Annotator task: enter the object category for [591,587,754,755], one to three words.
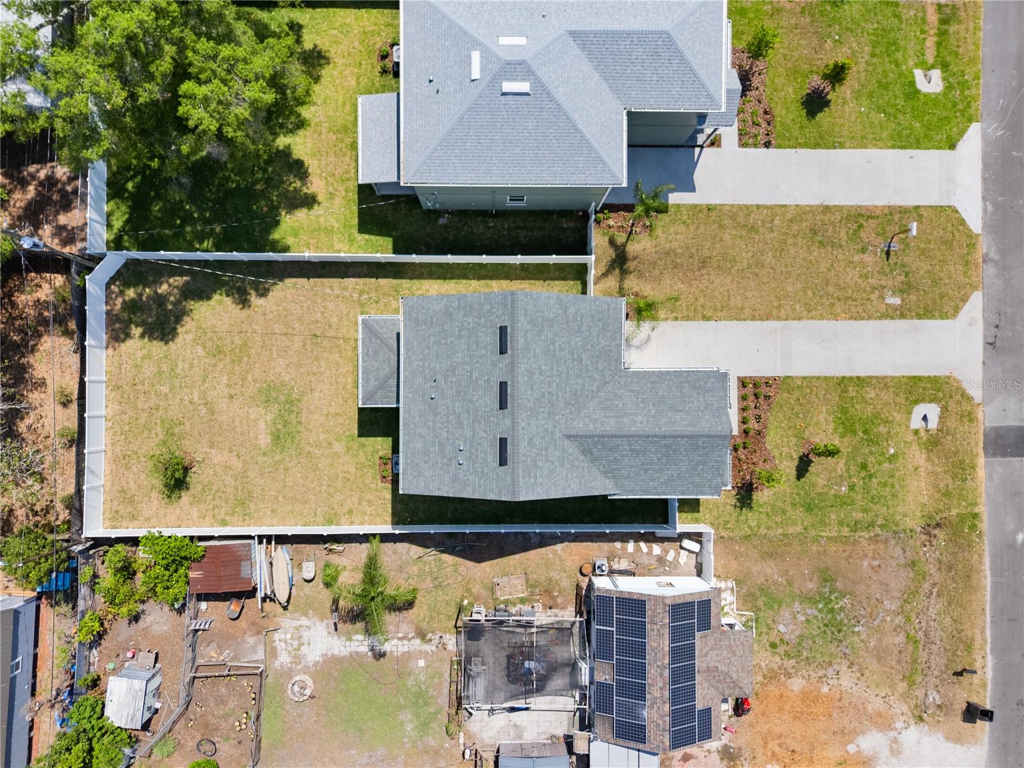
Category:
house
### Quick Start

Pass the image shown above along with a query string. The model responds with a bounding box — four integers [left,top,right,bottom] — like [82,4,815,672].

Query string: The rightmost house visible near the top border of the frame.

[356,0,739,210]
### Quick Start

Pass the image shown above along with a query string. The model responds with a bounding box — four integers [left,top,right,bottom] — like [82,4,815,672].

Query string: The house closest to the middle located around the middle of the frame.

[356,290,732,501]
